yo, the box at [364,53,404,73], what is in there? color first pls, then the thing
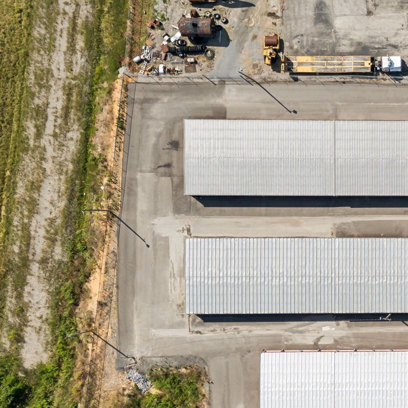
white vehicle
